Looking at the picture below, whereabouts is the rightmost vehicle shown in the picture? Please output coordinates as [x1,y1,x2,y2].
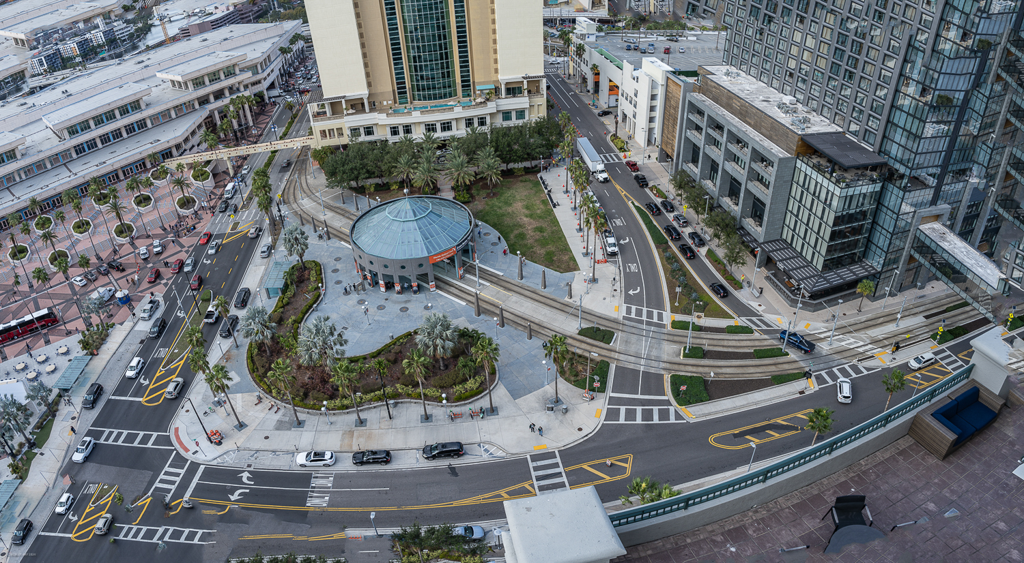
[904,352,939,373]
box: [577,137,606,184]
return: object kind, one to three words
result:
truck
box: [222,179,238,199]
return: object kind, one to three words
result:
vehicle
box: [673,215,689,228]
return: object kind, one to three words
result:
vehicle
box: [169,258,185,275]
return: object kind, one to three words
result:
car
